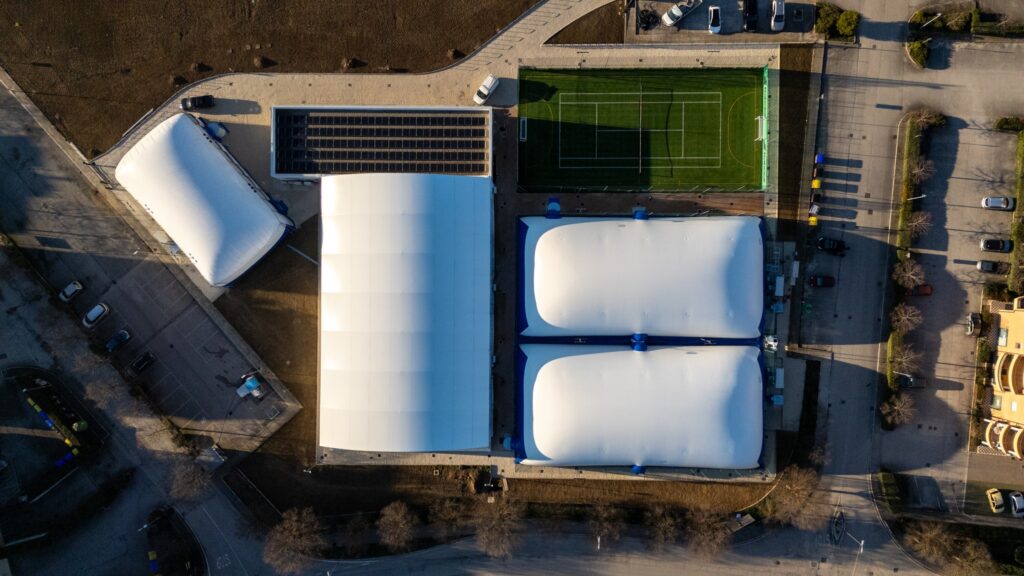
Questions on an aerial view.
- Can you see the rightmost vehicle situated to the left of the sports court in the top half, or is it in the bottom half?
top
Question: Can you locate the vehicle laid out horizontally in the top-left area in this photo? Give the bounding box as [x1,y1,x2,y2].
[181,93,217,112]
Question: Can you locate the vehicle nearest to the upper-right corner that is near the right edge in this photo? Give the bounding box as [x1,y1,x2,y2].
[980,195,1014,211]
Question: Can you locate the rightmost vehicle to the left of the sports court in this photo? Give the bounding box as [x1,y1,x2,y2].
[473,74,500,105]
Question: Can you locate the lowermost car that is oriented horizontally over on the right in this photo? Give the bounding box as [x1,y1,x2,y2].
[894,375,925,390]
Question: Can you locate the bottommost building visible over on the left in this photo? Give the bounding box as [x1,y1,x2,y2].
[319,173,497,452]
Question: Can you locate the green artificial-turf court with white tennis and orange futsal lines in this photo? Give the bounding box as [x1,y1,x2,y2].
[519,67,765,191]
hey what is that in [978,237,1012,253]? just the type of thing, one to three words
car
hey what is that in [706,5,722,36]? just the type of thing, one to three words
car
